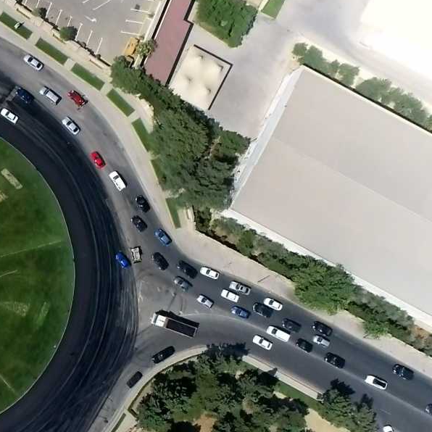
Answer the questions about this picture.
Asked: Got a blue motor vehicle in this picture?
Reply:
Yes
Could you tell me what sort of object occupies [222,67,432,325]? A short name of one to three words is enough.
warehouse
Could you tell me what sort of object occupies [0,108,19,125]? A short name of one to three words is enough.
car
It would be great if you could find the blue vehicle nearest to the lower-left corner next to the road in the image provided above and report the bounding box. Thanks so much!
[115,250,131,270]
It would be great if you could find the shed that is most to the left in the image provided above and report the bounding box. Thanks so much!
[142,0,194,88]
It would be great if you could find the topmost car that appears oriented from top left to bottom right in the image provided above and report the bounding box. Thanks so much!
[22,54,44,71]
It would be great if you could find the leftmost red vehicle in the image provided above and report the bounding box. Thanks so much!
[66,89,88,108]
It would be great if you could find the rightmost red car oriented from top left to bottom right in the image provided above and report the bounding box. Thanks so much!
[90,151,106,171]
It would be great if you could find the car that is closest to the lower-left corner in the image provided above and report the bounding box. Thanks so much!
[125,370,143,388]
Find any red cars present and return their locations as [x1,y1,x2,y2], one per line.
[66,89,88,108]
[90,151,106,171]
